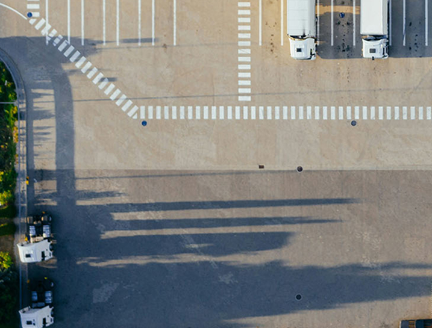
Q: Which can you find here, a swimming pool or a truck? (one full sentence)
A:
It is a truck that can be seen here.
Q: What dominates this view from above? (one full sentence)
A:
For the most part, this view shows paved ground.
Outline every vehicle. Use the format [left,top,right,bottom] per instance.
[362,0,390,60]
[17,278,57,328]
[286,0,319,60]
[15,213,55,263]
